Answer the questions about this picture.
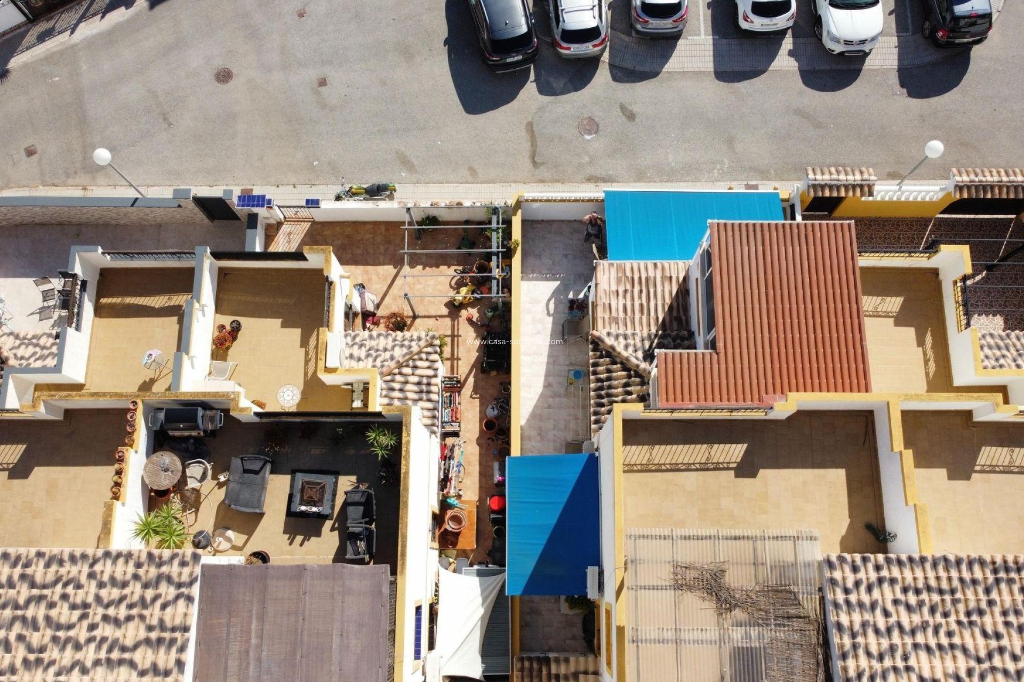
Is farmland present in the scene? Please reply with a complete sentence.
No, there's no farmland in this view.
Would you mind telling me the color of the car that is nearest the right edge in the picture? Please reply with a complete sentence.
In this view, the car that is nearest the right edge is black.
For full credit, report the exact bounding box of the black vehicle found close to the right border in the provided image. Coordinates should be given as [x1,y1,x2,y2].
[917,0,996,52]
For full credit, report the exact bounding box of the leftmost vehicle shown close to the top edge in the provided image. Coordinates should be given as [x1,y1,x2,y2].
[468,0,539,74]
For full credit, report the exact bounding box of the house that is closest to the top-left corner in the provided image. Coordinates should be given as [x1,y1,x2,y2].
[0,243,219,404]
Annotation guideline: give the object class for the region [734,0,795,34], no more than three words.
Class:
car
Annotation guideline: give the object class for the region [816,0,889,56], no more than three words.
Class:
car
